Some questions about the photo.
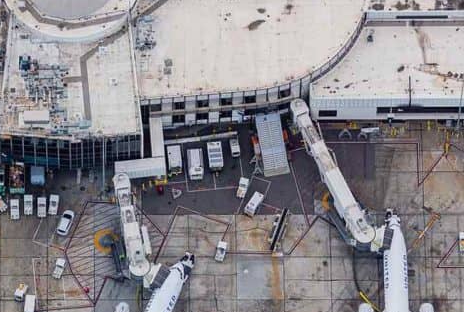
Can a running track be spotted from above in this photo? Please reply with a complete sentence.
No, no running track can be seen from above.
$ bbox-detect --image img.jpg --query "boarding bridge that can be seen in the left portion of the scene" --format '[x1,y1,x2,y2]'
[110,157,172,298]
